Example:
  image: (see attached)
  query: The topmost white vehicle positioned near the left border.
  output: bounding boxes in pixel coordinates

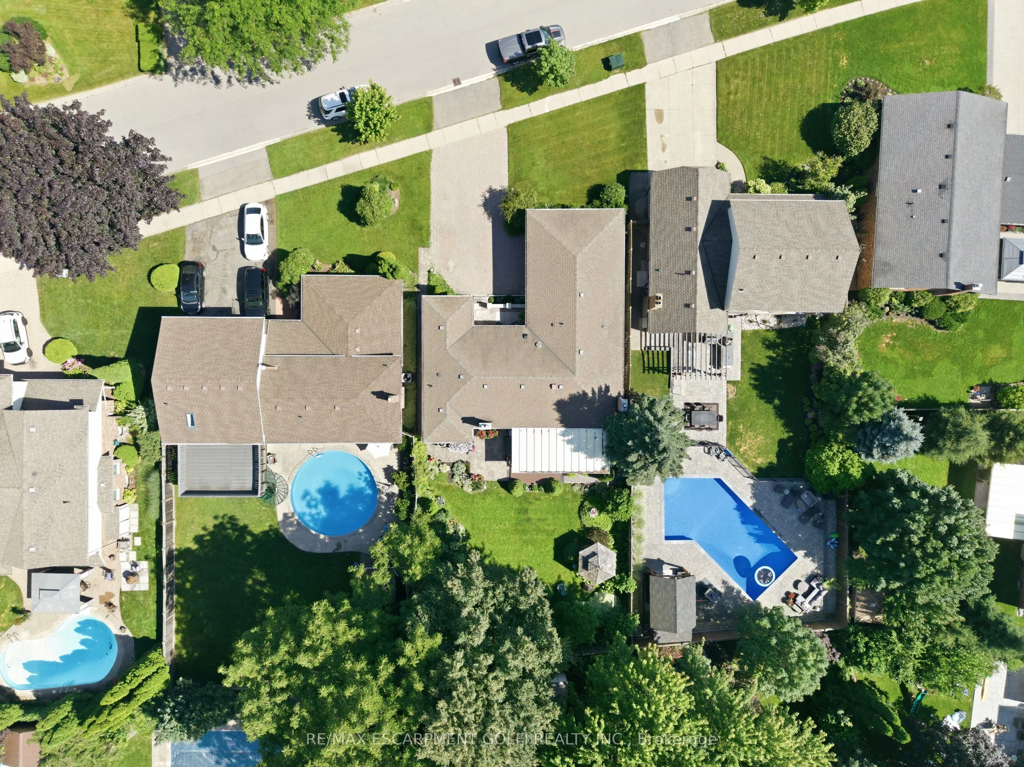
[0,312,36,363]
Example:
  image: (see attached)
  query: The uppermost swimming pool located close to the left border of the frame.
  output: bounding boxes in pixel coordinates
[0,612,120,693]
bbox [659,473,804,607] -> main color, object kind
blue swimming pool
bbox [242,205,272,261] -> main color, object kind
white car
